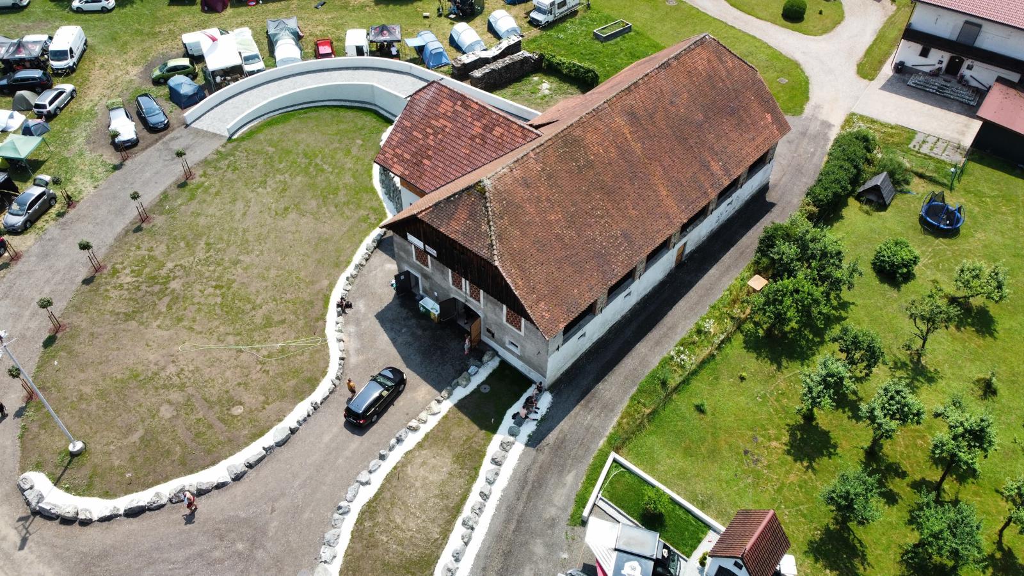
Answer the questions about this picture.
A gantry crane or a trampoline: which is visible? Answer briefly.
trampoline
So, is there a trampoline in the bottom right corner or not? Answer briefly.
No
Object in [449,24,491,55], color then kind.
white tent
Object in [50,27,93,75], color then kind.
white van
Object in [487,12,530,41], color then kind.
white tent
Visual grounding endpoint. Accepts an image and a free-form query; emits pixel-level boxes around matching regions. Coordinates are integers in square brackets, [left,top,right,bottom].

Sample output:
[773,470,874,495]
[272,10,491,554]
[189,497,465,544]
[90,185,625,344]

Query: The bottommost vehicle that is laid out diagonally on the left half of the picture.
[342,368,409,431]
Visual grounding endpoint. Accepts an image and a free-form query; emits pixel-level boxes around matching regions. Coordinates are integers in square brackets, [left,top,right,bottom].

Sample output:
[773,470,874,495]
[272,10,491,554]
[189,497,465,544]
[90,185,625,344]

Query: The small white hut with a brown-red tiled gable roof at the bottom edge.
[708,508,792,576]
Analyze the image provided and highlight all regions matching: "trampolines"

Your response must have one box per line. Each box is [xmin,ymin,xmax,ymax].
[915,196,968,244]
